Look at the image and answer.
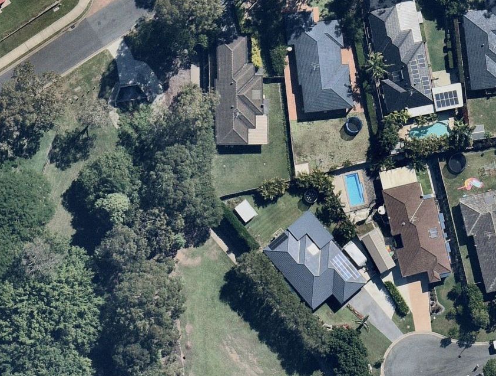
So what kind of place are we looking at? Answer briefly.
residential area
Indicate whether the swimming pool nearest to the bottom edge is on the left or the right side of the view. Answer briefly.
right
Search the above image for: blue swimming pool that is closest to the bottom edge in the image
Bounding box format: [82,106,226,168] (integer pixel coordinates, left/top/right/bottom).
[344,170,366,208]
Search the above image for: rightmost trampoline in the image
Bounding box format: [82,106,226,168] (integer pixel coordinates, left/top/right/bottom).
[448,155,466,173]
